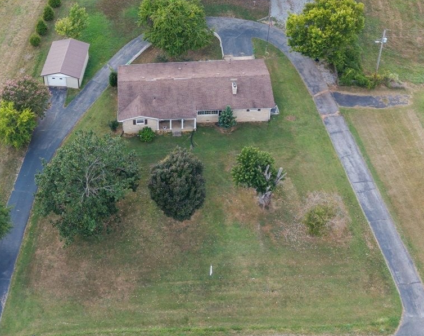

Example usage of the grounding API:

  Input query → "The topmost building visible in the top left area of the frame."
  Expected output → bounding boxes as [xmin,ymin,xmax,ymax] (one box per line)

[42,37,90,88]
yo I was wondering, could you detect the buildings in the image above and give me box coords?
[42,37,90,88]
[117,60,281,134]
